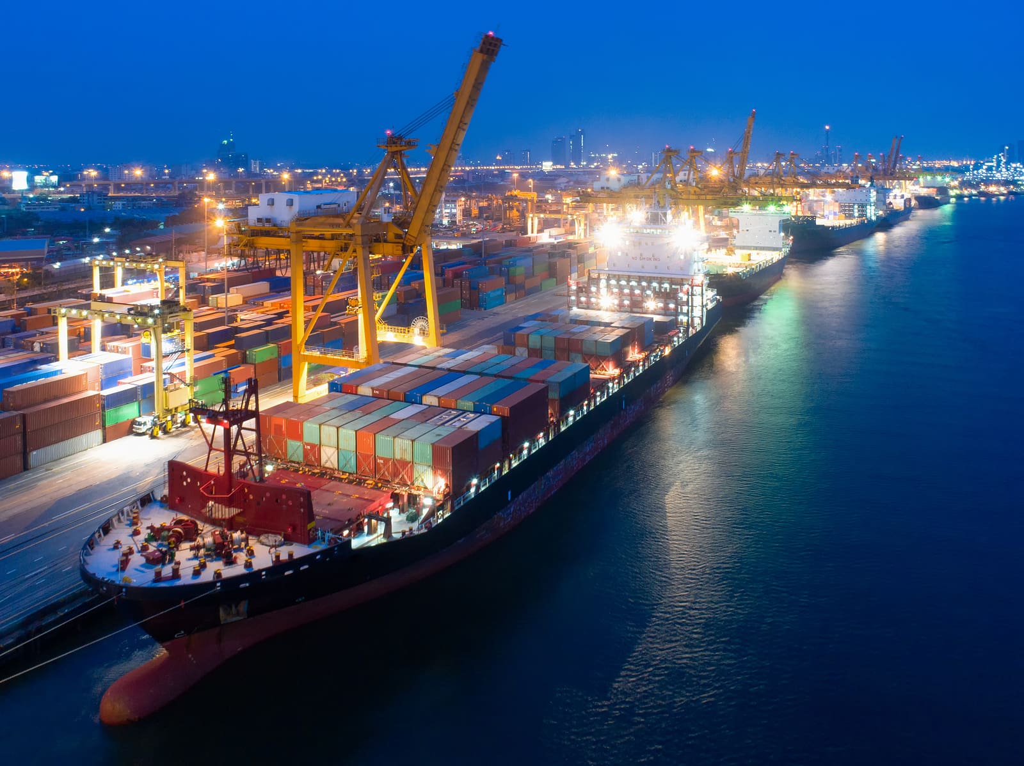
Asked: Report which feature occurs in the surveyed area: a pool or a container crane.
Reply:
container crane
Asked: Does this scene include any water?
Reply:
Yes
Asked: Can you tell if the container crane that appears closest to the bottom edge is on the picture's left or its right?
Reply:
left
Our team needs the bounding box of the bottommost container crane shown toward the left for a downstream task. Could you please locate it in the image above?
[49,292,213,441]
